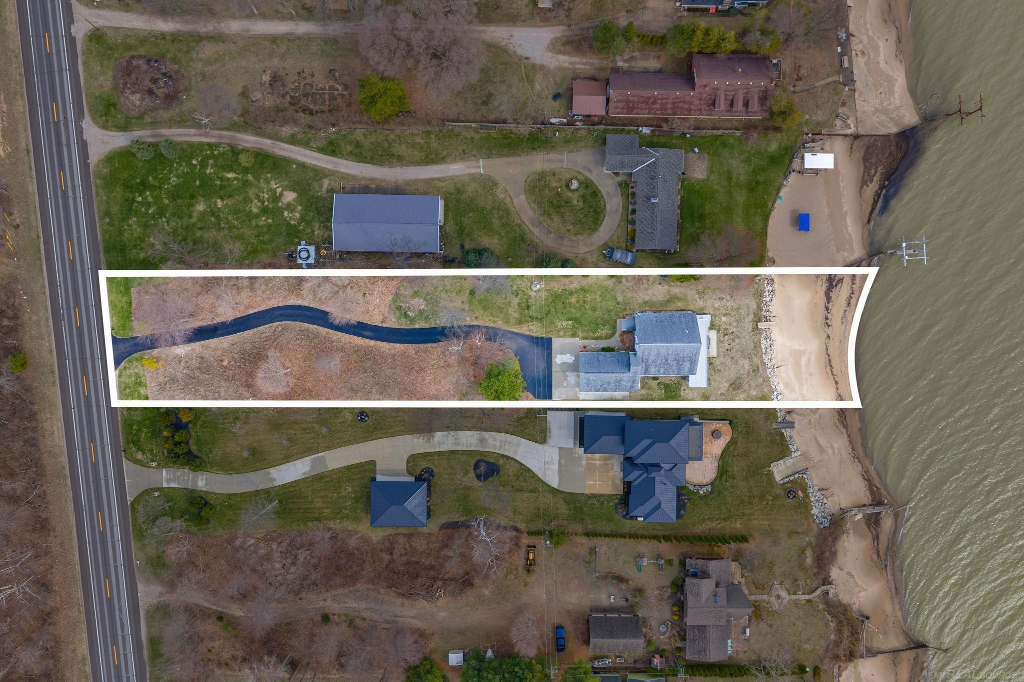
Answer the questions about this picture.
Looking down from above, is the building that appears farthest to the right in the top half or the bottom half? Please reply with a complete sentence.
It is in the top half that the building that appears farthest to the right appears.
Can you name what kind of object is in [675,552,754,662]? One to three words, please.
house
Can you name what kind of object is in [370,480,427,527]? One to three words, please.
building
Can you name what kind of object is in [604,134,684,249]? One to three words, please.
house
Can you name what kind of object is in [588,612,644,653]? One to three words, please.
building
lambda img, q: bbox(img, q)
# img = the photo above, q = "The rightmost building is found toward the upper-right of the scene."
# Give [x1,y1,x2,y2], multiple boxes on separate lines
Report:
[800,153,833,175]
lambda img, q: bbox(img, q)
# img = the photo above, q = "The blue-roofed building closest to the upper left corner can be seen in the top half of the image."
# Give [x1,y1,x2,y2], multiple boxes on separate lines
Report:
[331,193,441,254]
